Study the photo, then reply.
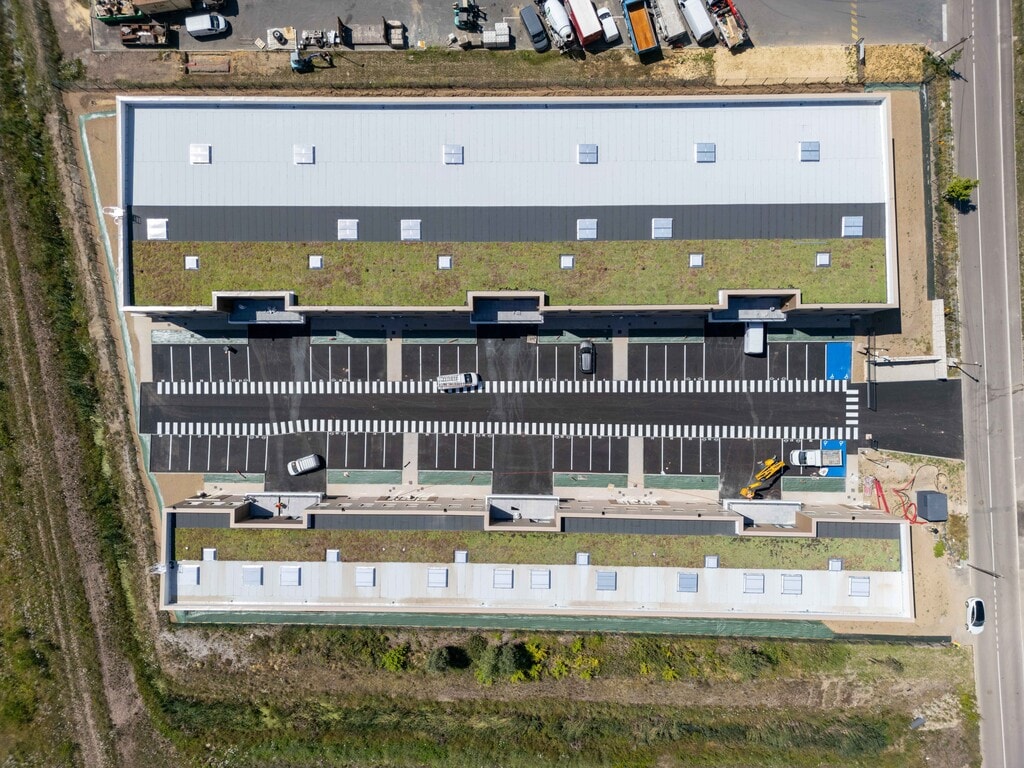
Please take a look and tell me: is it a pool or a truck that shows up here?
truck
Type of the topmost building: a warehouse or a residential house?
warehouse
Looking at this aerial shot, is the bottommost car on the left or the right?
right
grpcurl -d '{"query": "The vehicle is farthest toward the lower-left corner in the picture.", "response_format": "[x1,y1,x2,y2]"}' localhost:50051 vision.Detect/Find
[286,452,324,477]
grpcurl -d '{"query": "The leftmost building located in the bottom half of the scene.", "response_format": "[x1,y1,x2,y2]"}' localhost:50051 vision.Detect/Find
[142,491,916,622]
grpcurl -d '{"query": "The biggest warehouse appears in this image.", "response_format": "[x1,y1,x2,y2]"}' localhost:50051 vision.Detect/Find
[100,92,899,324]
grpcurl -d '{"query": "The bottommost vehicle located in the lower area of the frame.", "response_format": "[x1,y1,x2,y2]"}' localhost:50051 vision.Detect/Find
[964,597,986,633]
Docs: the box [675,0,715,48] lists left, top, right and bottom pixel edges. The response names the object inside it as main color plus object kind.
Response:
white truck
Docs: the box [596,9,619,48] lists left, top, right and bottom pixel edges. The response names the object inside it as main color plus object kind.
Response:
white vehicle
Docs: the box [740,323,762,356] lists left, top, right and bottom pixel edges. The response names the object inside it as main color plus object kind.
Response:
white vehicle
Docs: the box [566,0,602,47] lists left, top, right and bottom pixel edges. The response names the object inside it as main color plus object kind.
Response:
white truck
